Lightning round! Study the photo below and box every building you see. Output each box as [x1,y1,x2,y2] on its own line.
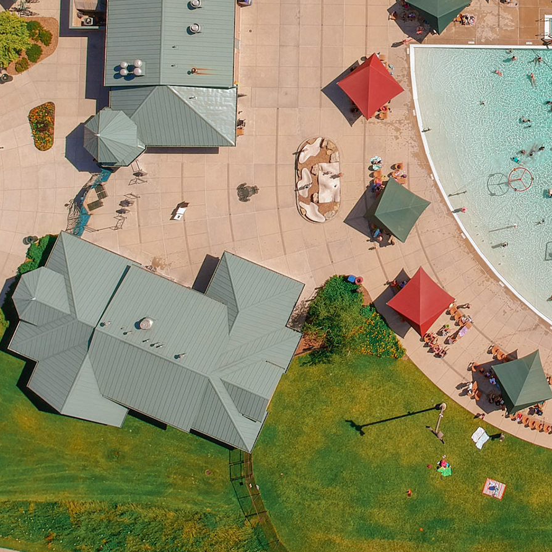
[7,231,304,453]
[83,0,241,166]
